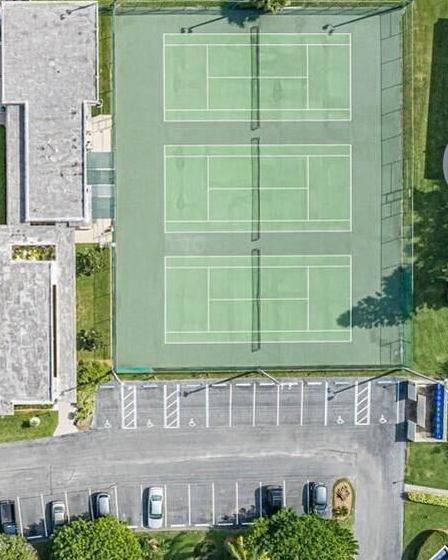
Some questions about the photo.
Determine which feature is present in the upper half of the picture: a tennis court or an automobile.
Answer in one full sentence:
There is a tennis court in the upper half of the picture.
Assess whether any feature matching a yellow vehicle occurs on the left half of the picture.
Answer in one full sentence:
No, looking on the left half of the picture, there is no yellow vehicle.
